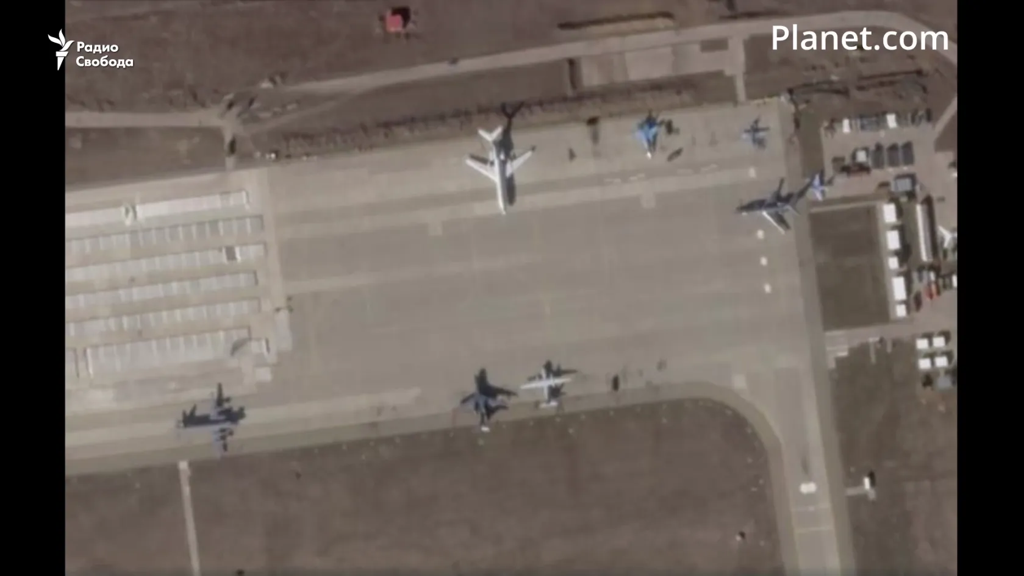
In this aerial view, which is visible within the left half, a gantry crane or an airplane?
airplane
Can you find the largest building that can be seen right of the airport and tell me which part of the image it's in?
right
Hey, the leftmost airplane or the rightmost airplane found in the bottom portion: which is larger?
the leftmost airplane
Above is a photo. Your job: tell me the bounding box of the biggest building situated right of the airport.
[915,202,935,262]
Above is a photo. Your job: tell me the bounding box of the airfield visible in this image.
[0,96,855,576]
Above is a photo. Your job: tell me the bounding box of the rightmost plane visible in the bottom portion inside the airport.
[519,368,570,405]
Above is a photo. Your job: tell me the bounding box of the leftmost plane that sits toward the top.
[459,128,524,214]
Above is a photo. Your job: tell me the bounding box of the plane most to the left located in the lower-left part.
[176,391,240,457]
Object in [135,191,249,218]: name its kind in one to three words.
shed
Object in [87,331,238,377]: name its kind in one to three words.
shed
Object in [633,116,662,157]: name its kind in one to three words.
airplane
